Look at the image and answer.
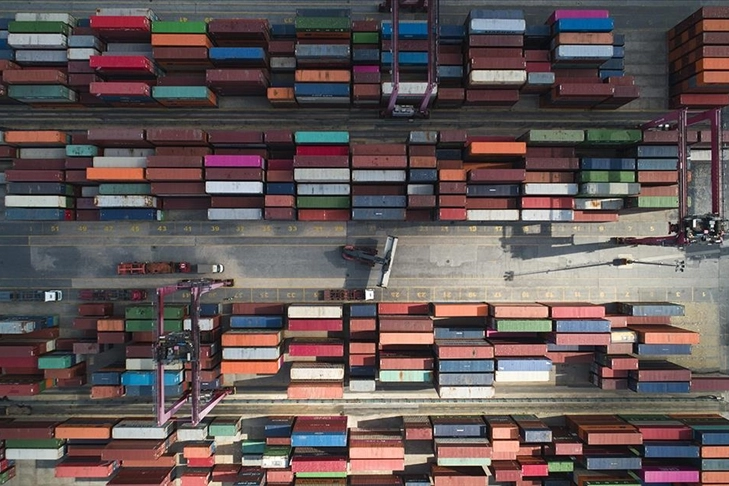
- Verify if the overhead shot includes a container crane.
Yes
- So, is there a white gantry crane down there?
No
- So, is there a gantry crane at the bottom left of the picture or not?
Yes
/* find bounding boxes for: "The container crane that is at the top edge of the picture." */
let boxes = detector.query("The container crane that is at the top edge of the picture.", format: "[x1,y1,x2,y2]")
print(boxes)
[380,0,439,115]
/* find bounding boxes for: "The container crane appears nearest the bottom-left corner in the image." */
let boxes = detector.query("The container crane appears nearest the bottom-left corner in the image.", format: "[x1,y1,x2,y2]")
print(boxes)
[150,280,238,427]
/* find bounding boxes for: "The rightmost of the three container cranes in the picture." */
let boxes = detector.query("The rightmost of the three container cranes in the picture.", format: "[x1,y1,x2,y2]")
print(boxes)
[614,102,729,250]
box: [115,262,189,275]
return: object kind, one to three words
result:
vehicle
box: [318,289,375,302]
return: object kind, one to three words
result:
vehicle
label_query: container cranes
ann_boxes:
[150,280,238,427]
[380,0,439,115]
[614,102,729,250]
